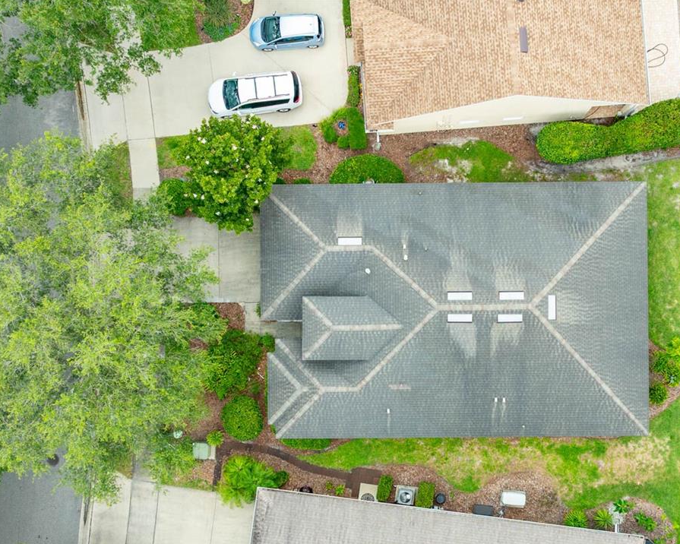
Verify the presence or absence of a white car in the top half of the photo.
Yes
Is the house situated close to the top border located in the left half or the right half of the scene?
right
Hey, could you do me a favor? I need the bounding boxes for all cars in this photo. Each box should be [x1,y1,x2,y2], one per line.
[208,71,304,115]
[249,10,325,53]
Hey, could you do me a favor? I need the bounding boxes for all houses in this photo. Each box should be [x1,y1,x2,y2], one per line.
[249,487,644,544]
[341,0,652,157]
[259,181,649,439]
